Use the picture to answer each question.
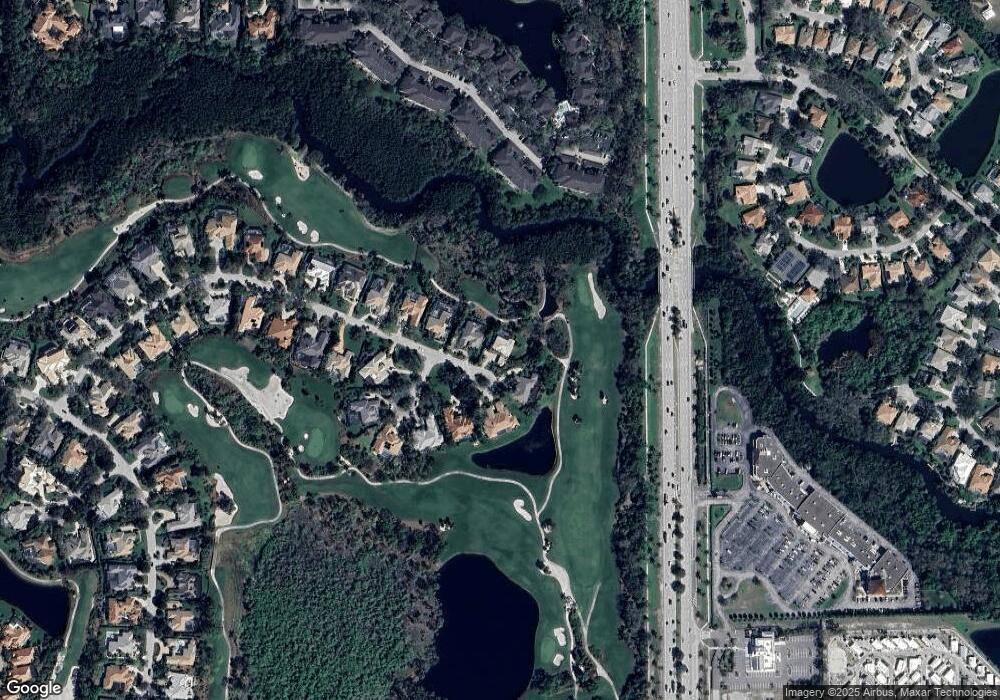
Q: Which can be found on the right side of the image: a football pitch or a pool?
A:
pool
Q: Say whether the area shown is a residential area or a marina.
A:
residential area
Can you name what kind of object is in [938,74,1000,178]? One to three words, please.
pond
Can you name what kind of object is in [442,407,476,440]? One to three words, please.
house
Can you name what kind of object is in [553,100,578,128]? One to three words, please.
swimming pool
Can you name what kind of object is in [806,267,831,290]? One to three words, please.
building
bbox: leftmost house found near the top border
[27,0,83,56]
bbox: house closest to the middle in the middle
[492,331,519,367]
